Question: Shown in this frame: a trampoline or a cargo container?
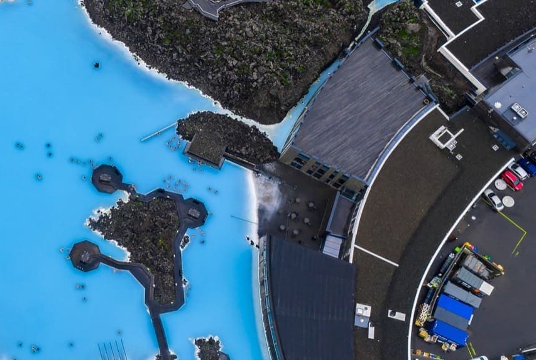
cargo container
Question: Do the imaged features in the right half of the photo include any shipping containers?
Yes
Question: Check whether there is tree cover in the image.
No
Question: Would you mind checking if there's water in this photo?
Yes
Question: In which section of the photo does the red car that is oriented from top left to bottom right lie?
right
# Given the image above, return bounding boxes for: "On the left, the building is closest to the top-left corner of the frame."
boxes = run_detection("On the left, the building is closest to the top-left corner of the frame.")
[184,129,225,165]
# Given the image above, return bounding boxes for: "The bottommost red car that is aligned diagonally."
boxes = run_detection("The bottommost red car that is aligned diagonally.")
[499,171,522,192]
